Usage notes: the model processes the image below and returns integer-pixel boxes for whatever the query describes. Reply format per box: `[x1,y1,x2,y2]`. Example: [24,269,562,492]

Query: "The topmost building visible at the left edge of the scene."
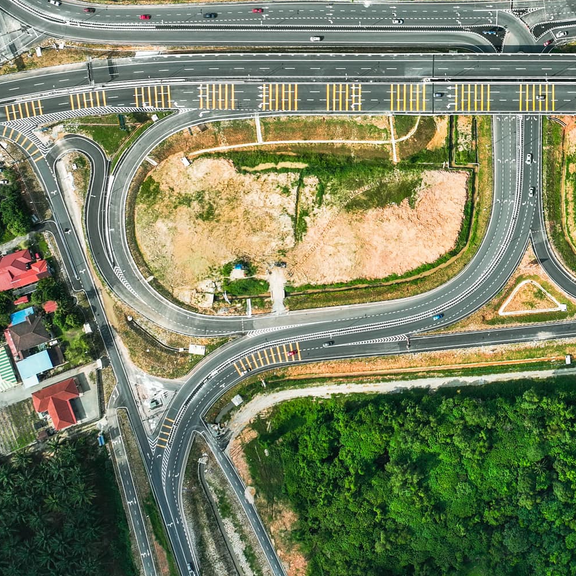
[0,247,48,289]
